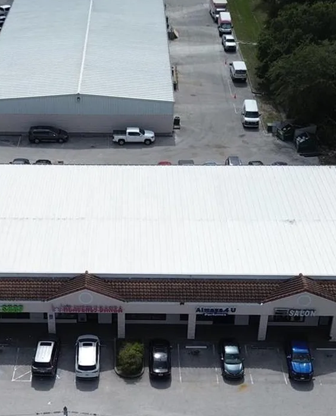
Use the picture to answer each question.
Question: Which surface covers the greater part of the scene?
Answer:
buildings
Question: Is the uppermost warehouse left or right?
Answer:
left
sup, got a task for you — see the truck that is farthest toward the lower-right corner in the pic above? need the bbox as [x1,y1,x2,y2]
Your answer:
[284,338,316,385]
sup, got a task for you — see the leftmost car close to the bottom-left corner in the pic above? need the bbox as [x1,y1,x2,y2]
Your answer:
[31,338,60,383]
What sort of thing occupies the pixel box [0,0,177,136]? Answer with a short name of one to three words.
warehouse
